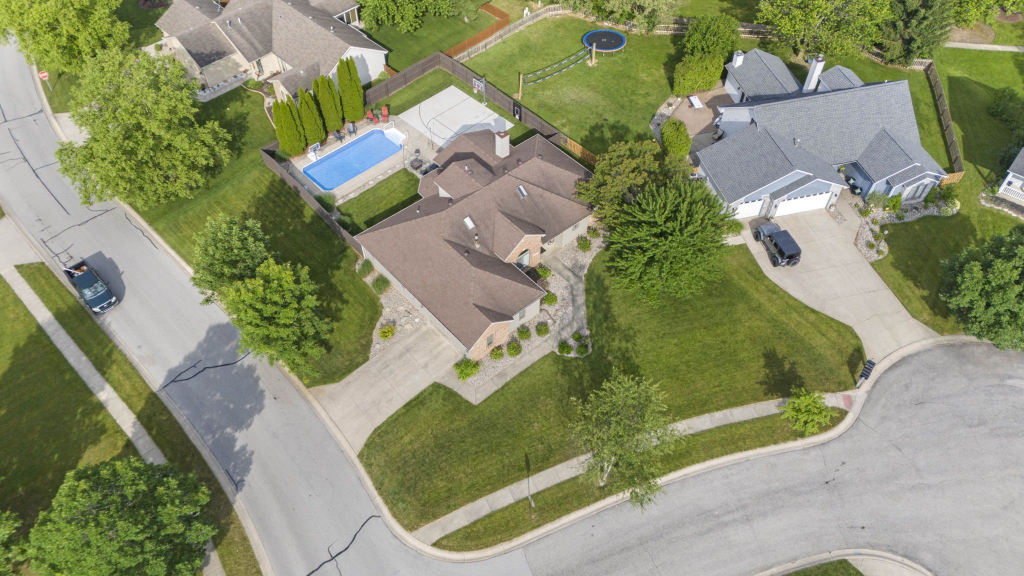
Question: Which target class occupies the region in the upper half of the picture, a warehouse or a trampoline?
trampoline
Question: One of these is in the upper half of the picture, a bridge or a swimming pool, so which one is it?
swimming pool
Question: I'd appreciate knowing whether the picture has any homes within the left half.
Yes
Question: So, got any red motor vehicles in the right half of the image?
No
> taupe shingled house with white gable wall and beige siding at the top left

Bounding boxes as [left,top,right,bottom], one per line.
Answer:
[128,0,389,106]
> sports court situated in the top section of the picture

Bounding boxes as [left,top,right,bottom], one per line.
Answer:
[396,85,514,149]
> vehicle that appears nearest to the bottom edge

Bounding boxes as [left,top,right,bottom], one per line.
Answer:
[63,261,117,315]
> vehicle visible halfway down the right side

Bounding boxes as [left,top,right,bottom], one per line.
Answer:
[753,224,802,267]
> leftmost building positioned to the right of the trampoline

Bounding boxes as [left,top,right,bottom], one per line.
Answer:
[695,48,949,220]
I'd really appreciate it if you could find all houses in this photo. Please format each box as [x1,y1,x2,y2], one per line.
[353,128,614,363]
[998,151,1024,207]
[695,48,949,220]
[128,0,389,106]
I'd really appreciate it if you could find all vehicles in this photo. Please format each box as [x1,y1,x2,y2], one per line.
[753,224,802,267]
[63,261,117,315]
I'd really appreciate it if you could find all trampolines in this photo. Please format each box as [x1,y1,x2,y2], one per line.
[583,31,626,62]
